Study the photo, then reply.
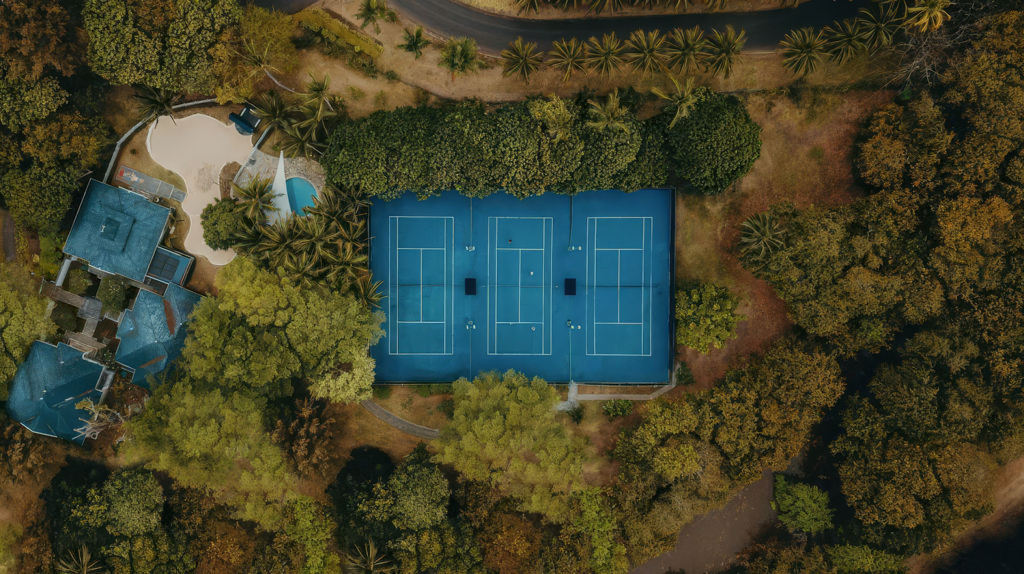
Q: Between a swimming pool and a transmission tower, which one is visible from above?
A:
swimming pool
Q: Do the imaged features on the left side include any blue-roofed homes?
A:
Yes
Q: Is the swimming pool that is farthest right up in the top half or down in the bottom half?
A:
top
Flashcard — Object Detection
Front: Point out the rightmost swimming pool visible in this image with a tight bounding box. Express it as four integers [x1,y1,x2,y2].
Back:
[286,175,320,218]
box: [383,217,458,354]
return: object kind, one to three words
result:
tennis court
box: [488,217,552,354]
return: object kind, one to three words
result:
tennis court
